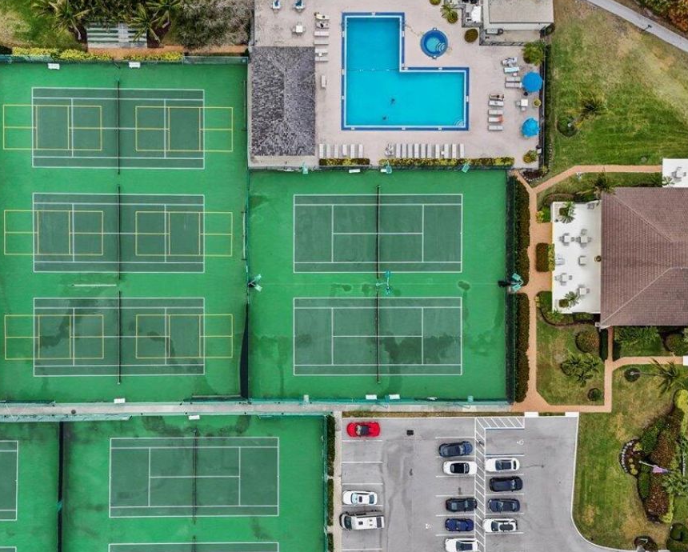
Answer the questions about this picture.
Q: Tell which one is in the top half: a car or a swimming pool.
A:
swimming pool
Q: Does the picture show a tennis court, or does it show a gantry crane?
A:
tennis court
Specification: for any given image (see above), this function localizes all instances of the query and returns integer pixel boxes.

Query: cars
[346,422,380,438]
[442,498,478,514]
[443,461,476,477]
[481,517,518,535]
[342,491,377,505]
[442,517,476,534]
[443,537,480,552]
[487,476,523,493]
[437,442,472,458]
[484,458,519,475]
[486,498,520,514]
